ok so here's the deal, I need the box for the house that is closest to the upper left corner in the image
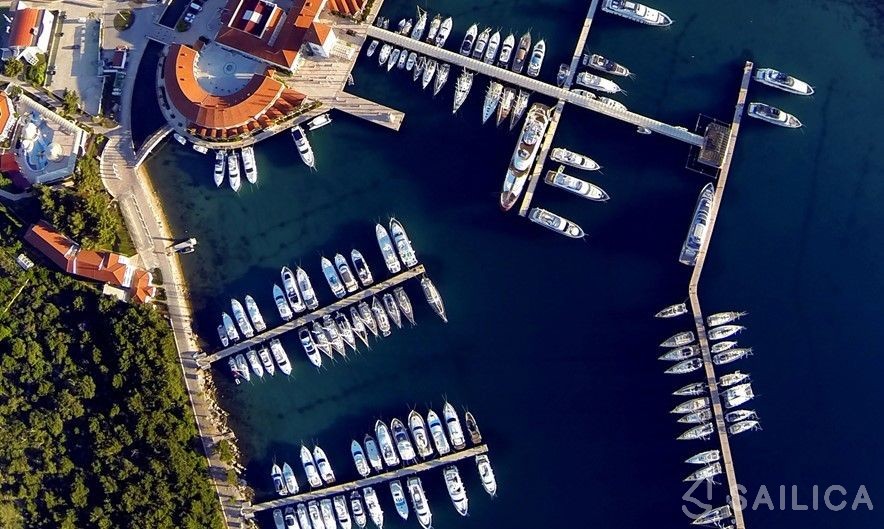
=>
[0,3,54,67]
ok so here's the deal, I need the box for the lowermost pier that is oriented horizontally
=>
[254,444,488,513]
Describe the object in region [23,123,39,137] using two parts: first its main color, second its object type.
white umbrella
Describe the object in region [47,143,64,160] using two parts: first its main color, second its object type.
white umbrella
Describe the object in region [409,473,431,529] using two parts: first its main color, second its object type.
white boat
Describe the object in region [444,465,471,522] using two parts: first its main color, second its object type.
white boat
